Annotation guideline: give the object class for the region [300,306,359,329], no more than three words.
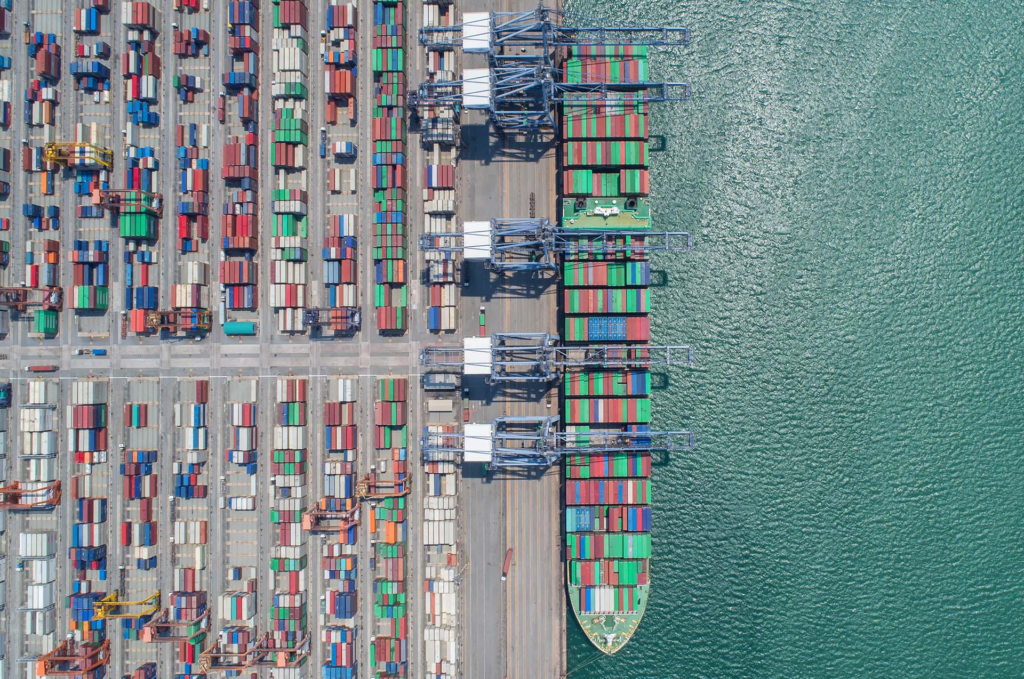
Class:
crane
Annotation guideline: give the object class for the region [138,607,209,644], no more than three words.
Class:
crane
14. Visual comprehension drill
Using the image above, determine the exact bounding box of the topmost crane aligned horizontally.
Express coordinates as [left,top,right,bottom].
[413,0,690,89]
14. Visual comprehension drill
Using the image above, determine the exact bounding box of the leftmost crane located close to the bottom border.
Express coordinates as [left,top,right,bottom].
[31,639,108,678]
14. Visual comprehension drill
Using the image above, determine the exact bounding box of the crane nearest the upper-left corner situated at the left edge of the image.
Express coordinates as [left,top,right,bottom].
[39,141,111,172]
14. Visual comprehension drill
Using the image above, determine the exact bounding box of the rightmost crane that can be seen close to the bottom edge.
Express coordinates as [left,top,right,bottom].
[250,631,309,669]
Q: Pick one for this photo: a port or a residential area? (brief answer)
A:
port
